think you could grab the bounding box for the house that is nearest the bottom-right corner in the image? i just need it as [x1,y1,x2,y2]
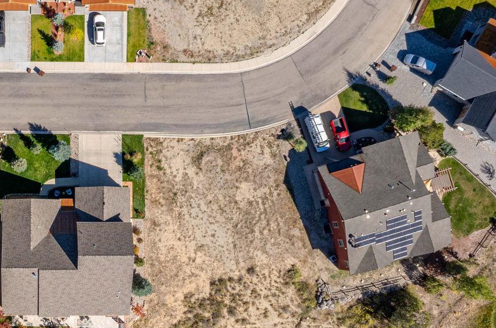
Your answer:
[309,130,452,274]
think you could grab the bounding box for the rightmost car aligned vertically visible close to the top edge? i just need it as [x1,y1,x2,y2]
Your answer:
[92,13,108,47]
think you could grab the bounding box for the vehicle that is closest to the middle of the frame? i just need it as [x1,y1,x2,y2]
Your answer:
[304,113,329,152]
